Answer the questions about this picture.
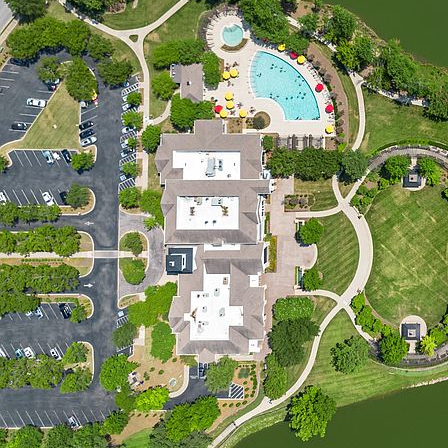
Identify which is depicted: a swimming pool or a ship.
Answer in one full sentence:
Of the two, only a swimming pool appears.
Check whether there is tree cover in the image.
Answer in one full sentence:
Yes, tree cover can be seen from above here.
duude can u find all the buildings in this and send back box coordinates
[171,63,206,101]
[156,121,278,362]
[401,320,422,340]
[403,168,423,187]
